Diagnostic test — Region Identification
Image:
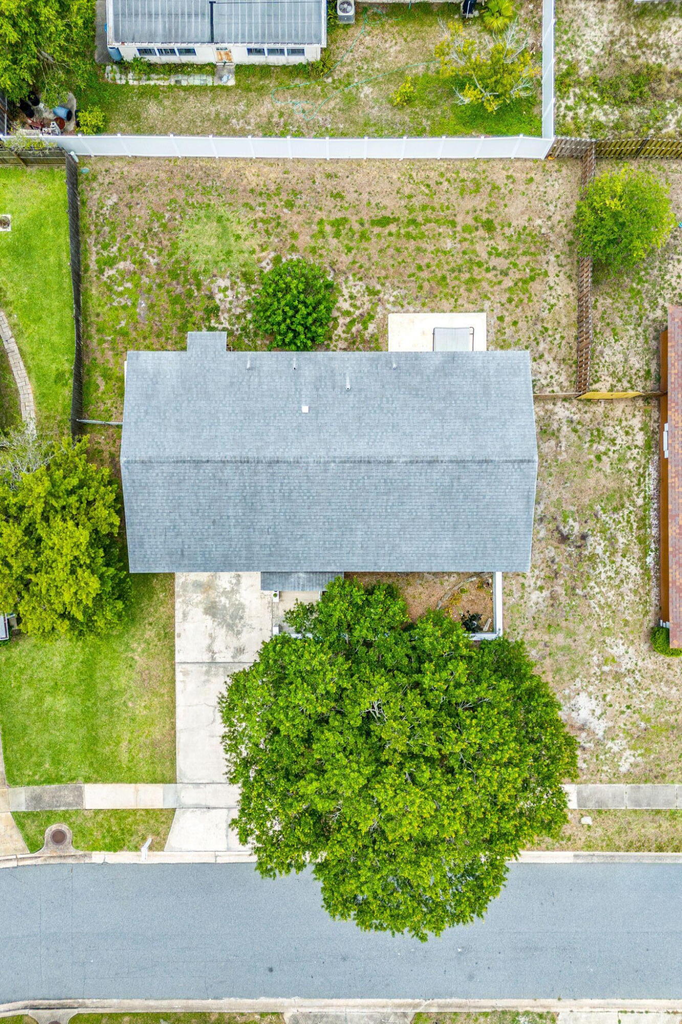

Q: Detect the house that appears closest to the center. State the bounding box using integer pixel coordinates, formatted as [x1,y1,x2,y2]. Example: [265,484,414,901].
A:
[120,331,538,591]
